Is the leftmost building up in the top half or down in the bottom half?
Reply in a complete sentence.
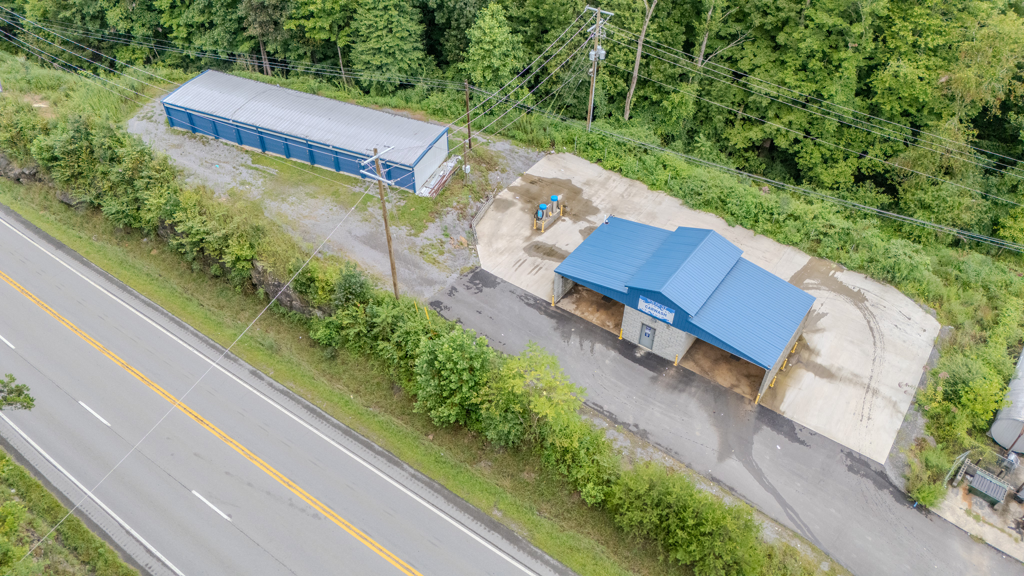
Seen from above, the leftmost building lies in the top half of the view.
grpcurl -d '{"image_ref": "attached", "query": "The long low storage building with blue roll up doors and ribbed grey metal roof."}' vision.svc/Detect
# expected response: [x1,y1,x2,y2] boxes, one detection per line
[161,68,453,193]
